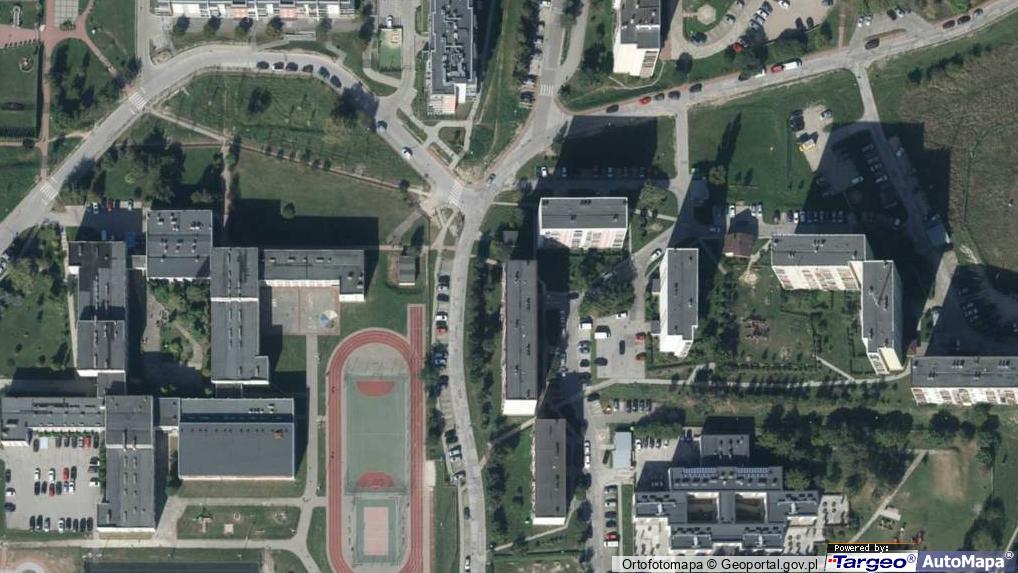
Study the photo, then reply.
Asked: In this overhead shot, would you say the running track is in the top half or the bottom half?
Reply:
bottom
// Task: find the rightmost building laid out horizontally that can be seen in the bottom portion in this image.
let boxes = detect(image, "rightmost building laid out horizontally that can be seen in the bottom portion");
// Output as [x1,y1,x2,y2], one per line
[910,357,1018,407]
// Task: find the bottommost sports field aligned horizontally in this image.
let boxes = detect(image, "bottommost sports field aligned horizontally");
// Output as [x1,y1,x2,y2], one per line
[85,549,259,573]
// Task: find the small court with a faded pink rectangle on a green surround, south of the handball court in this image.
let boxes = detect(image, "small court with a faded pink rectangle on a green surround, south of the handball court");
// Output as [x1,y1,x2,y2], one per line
[355,497,400,565]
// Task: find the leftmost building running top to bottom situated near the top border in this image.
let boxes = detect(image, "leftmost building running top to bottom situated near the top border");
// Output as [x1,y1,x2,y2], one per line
[431,0,472,112]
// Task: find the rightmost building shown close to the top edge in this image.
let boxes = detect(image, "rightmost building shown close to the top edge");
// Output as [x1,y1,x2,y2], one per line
[615,0,660,77]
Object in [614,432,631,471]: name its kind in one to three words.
building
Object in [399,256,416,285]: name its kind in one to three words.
house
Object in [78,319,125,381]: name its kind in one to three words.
building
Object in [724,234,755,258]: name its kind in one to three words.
house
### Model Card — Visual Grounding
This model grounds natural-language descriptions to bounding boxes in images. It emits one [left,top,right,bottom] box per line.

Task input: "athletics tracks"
[325,303,426,573]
